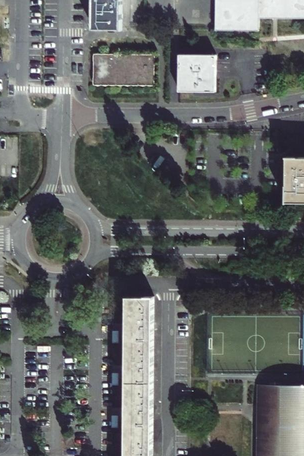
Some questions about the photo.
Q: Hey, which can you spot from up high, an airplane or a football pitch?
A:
football pitch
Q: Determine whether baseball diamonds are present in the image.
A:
No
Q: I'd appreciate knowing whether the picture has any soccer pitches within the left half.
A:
No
